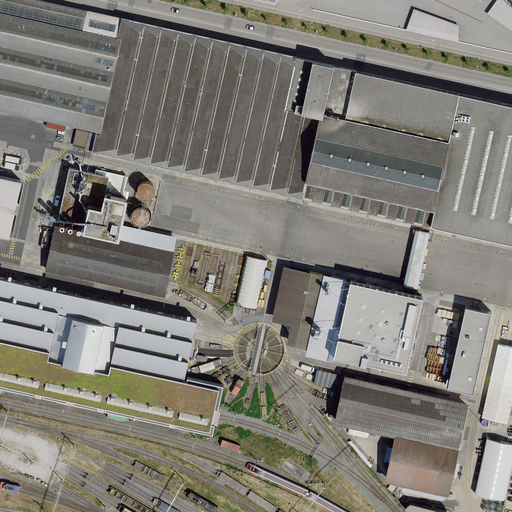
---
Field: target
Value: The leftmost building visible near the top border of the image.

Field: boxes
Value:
[0,0,124,136]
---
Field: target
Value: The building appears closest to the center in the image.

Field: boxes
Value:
[238,255,268,309]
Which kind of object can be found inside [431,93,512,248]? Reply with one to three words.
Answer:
building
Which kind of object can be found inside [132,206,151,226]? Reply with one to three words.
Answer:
silo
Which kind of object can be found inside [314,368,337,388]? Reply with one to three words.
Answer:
shed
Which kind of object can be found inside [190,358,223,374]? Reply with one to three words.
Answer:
vehicle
